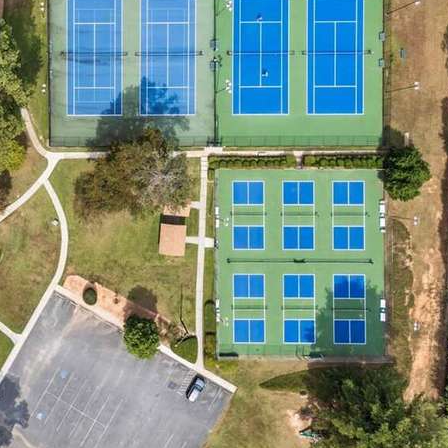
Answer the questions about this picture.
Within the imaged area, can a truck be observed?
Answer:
No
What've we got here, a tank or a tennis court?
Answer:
tennis court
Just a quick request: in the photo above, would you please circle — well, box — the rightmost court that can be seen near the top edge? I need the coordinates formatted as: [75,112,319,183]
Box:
[299,0,384,145]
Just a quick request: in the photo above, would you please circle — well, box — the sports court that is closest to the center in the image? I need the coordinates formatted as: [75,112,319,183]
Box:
[216,170,274,262]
